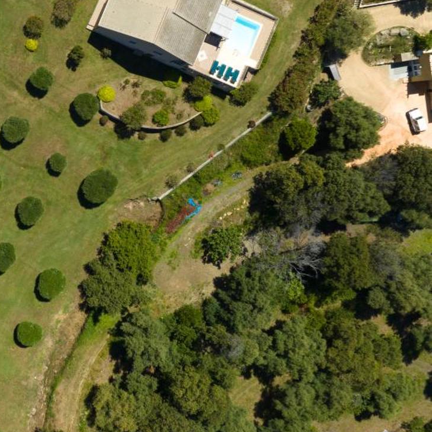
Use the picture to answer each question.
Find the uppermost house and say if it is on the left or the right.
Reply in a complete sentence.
The uppermost house sits on the left side.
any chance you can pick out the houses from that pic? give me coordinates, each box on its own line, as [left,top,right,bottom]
[75,0,221,69]
[396,51,432,96]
